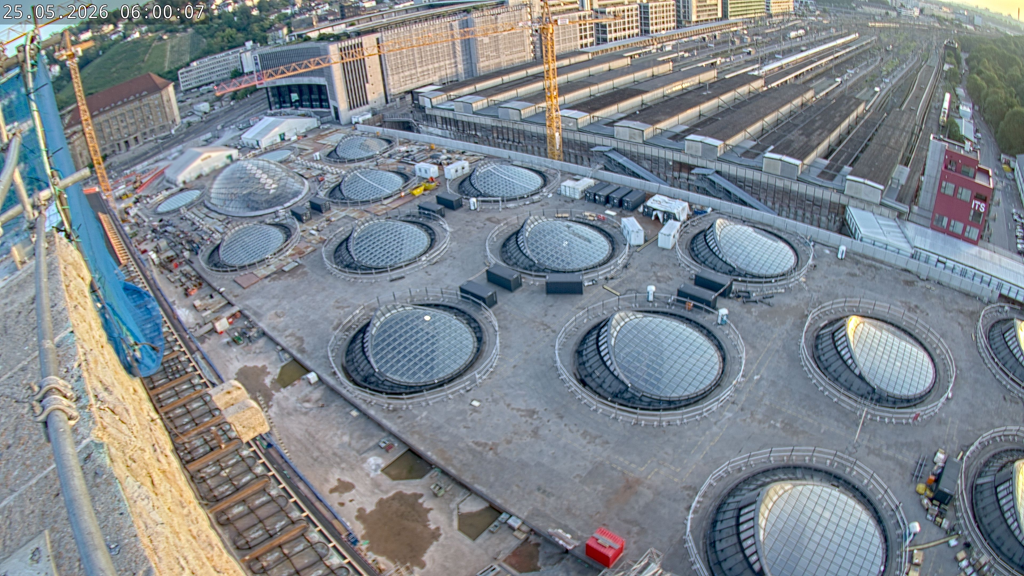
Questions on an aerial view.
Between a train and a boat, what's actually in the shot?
train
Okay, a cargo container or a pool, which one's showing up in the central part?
cargo container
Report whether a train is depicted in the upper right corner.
Yes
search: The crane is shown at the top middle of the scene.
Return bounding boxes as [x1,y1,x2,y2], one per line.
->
[213,0,615,161]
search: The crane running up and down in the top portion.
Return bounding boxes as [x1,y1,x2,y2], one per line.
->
[63,29,116,206]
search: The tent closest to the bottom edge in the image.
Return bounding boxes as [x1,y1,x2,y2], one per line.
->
[165,142,241,184]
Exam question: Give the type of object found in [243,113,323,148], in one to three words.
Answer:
tent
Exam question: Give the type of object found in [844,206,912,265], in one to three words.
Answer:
building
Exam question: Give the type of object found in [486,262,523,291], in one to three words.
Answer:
shipping container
